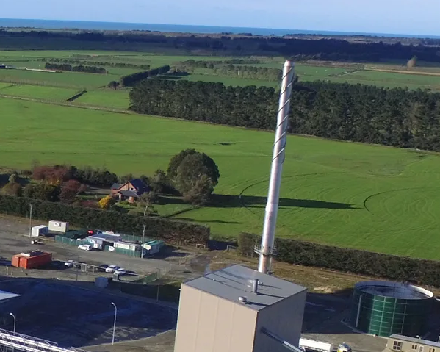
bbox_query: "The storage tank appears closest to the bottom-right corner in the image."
[342,280,439,338]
